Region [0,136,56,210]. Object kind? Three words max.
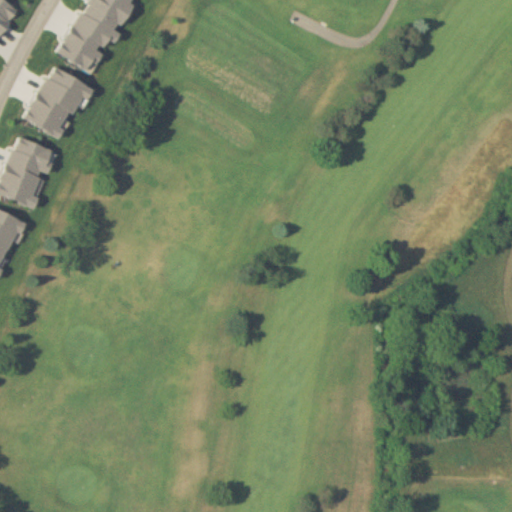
house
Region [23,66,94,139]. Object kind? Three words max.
house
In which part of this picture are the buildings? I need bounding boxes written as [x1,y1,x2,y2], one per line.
[23,66,94,139]
[0,209,28,276]
[0,0,18,37]
[0,136,56,210]
[56,0,135,74]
